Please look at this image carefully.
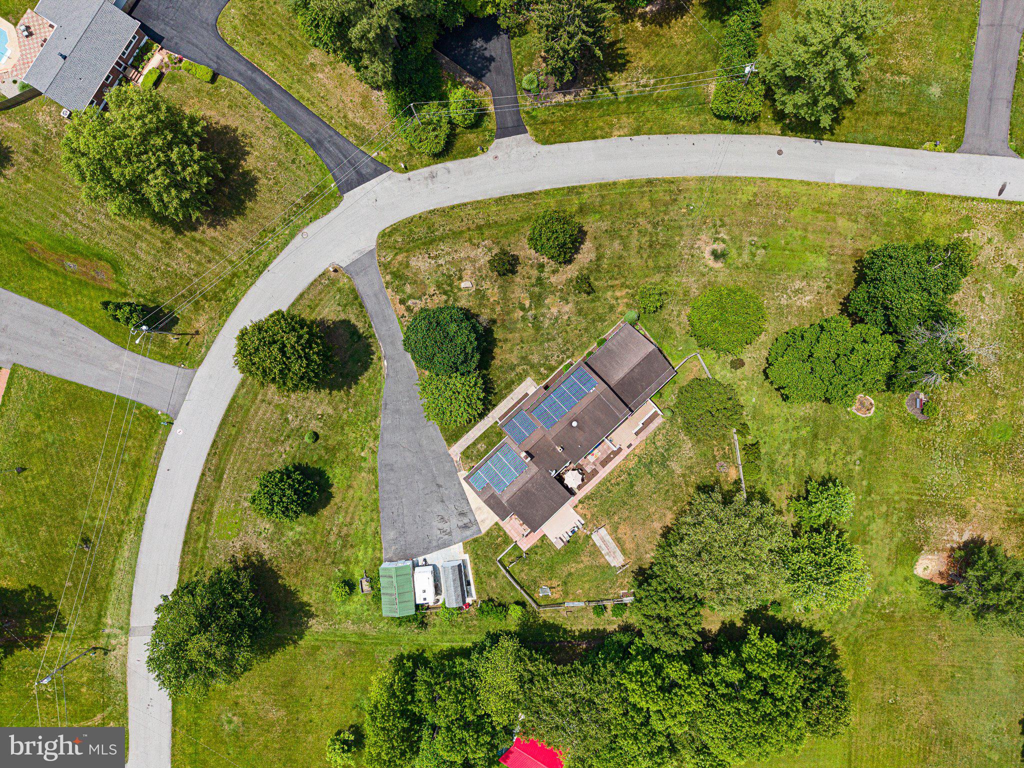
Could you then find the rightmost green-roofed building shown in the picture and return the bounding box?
[380,560,416,617]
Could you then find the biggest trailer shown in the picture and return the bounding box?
[415,557,435,603]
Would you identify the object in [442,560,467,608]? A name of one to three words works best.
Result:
shed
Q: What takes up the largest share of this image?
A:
grass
